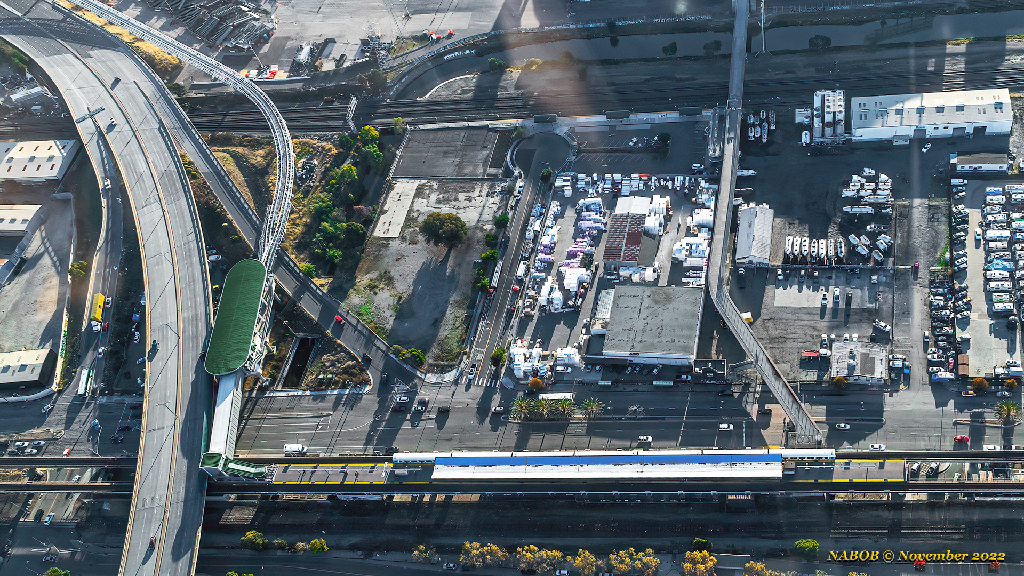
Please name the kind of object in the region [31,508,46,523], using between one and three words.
vehicle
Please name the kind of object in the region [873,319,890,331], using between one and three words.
vehicle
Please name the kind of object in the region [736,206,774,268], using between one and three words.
shed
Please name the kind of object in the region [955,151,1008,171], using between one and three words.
building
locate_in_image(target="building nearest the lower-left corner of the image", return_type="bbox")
[0,349,57,389]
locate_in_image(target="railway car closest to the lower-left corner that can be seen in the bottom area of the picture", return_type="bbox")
[390,451,449,463]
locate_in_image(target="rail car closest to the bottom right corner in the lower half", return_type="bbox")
[769,449,836,461]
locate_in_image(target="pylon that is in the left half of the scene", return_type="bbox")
[352,9,392,73]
